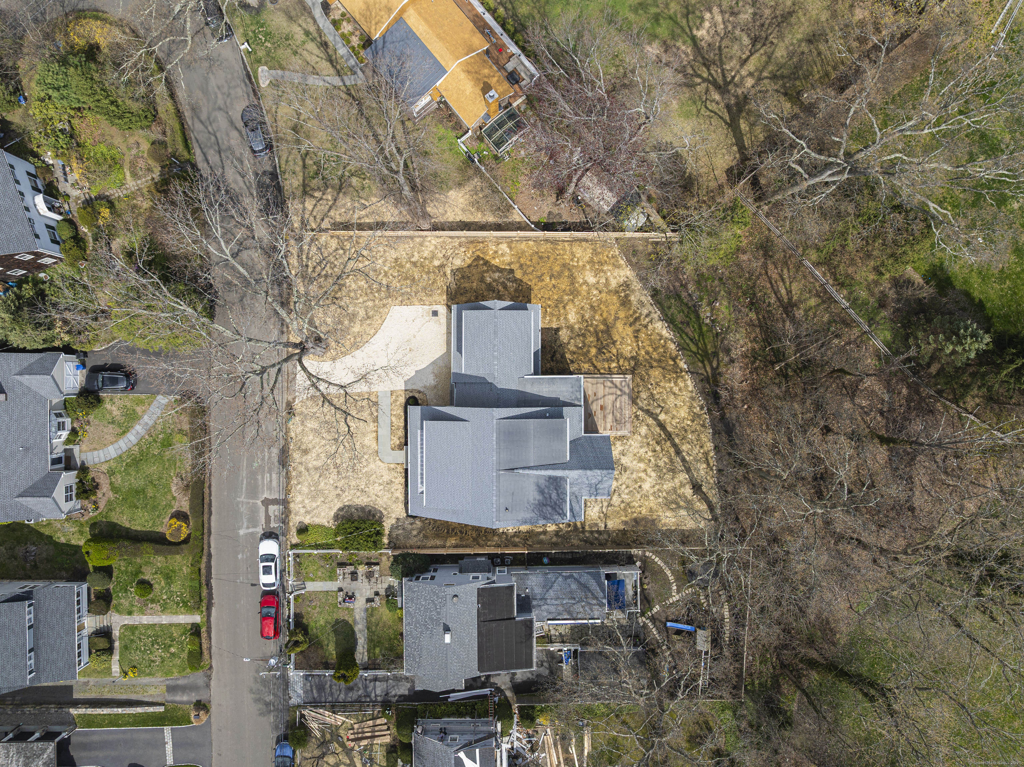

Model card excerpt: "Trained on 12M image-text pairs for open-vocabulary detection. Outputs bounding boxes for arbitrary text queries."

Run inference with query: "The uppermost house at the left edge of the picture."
[0,146,61,274]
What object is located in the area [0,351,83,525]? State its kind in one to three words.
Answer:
house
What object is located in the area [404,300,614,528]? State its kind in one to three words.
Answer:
house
